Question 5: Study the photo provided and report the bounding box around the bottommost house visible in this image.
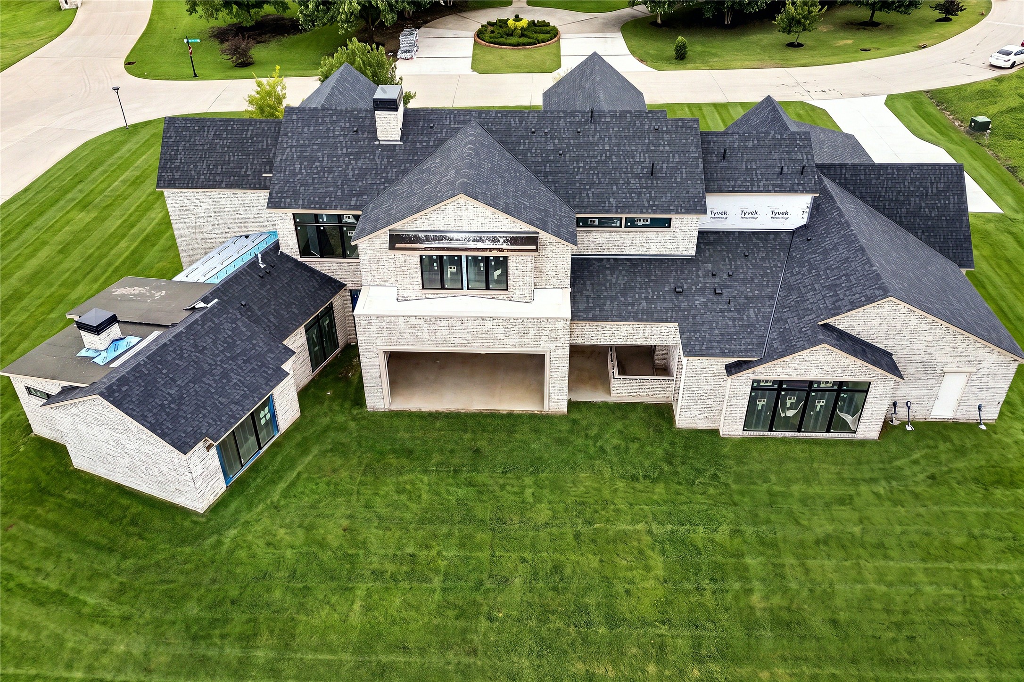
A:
[0,51,1024,489]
